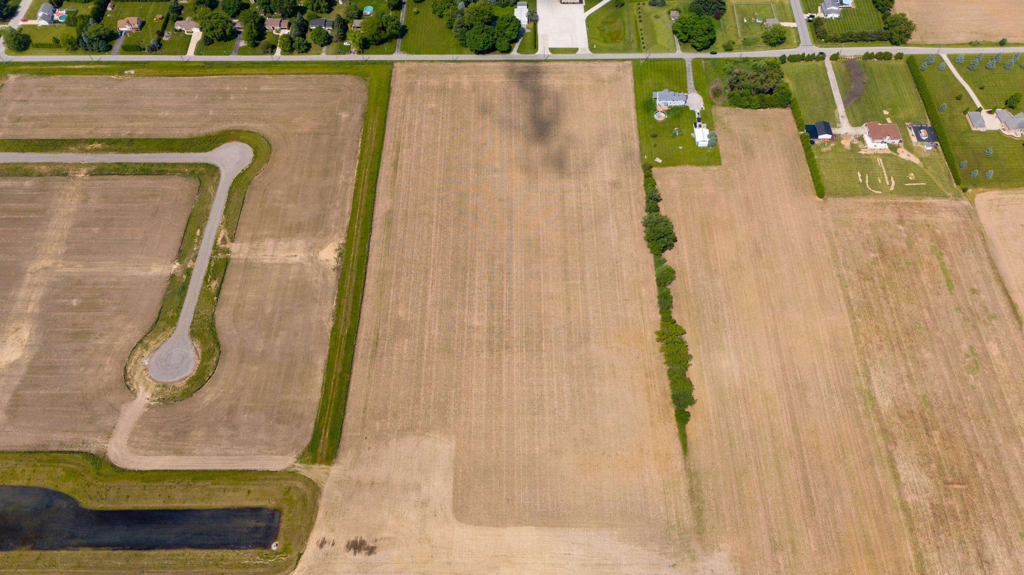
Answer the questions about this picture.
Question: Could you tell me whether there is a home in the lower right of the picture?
No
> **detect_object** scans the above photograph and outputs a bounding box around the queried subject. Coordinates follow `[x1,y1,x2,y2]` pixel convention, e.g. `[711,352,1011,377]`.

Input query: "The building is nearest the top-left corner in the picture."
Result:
[37,2,57,25]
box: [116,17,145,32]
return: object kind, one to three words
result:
house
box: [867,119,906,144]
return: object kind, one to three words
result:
house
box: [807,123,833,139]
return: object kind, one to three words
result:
building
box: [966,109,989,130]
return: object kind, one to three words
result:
building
